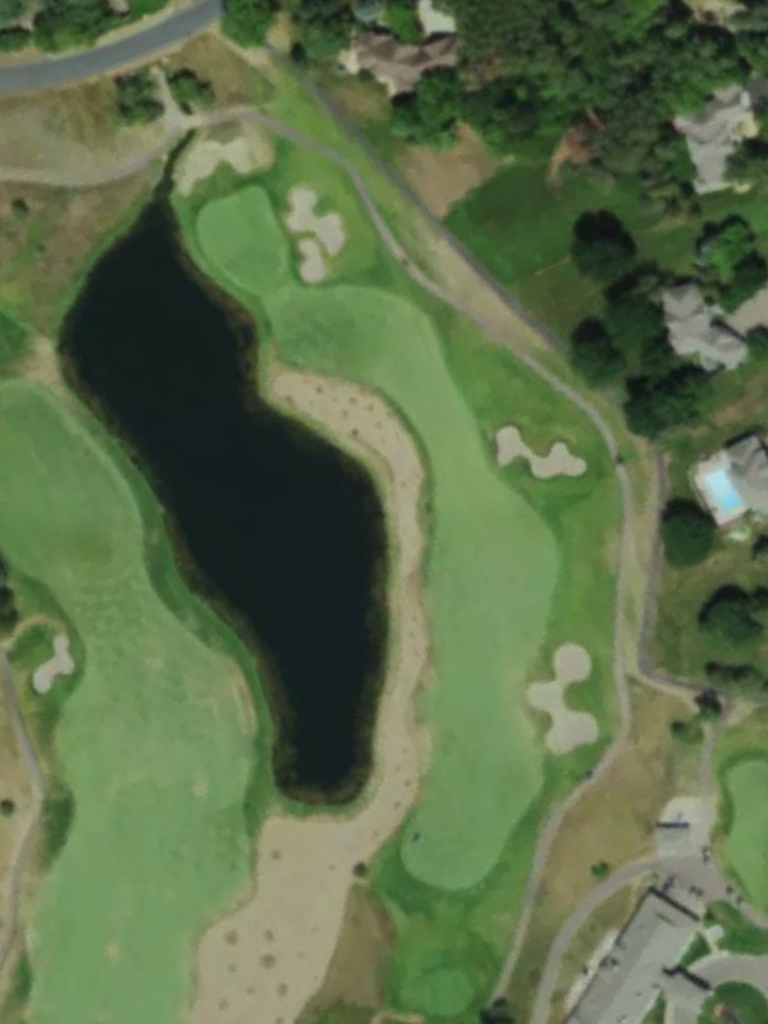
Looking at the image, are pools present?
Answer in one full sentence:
Yes, I can see a pool in this picture.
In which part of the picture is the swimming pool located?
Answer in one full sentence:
The swimming pool appears toward the right of the photo.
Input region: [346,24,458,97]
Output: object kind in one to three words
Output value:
house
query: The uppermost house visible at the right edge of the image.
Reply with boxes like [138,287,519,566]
[676,81,760,195]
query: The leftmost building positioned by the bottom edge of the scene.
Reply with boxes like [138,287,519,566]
[562,890,713,1024]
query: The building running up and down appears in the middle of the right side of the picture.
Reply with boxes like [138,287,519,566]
[724,431,768,525]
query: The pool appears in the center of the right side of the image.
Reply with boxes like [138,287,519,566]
[705,469,742,512]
